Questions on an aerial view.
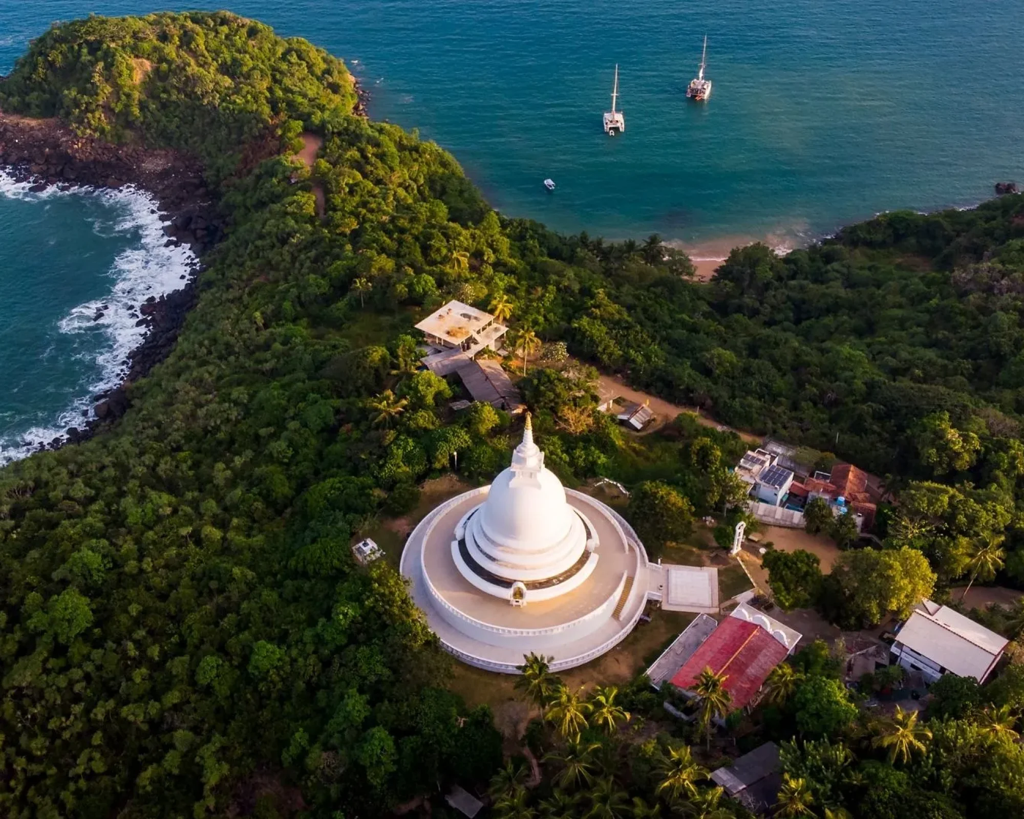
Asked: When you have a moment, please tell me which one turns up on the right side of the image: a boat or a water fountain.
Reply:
boat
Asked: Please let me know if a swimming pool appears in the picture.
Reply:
No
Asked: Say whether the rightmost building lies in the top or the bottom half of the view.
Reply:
bottom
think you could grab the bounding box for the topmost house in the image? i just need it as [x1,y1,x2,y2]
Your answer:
[415,300,508,359]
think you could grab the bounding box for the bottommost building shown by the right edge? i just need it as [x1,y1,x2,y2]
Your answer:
[884,605,1010,699]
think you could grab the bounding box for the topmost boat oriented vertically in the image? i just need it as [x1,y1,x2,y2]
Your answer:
[690,33,709,96]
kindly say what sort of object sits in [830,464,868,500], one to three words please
house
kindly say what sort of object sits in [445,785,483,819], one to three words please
shed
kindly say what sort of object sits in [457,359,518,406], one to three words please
shed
